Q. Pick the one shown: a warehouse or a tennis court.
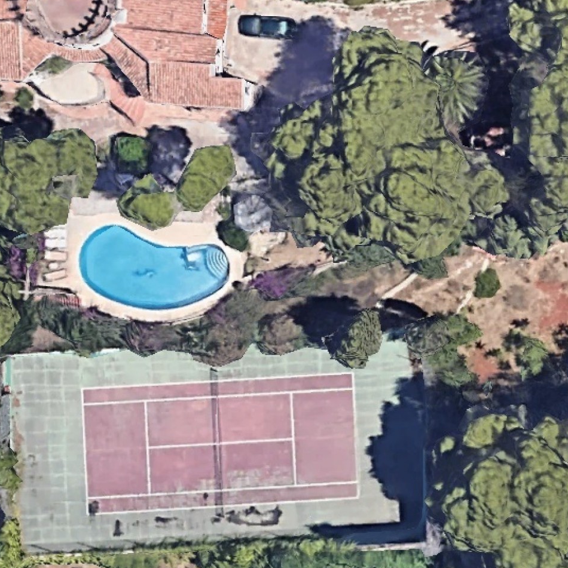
tennis court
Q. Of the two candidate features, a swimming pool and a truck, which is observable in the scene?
swimming pool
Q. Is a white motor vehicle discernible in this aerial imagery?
No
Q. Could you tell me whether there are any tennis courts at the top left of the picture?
No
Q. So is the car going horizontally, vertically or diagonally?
horizontally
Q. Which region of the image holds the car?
top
